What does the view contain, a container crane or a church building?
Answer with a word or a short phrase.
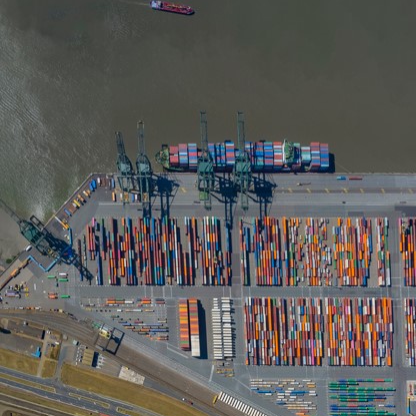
container crane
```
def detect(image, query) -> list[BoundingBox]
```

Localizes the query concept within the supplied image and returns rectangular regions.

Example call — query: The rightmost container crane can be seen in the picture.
[231,117,258,209]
